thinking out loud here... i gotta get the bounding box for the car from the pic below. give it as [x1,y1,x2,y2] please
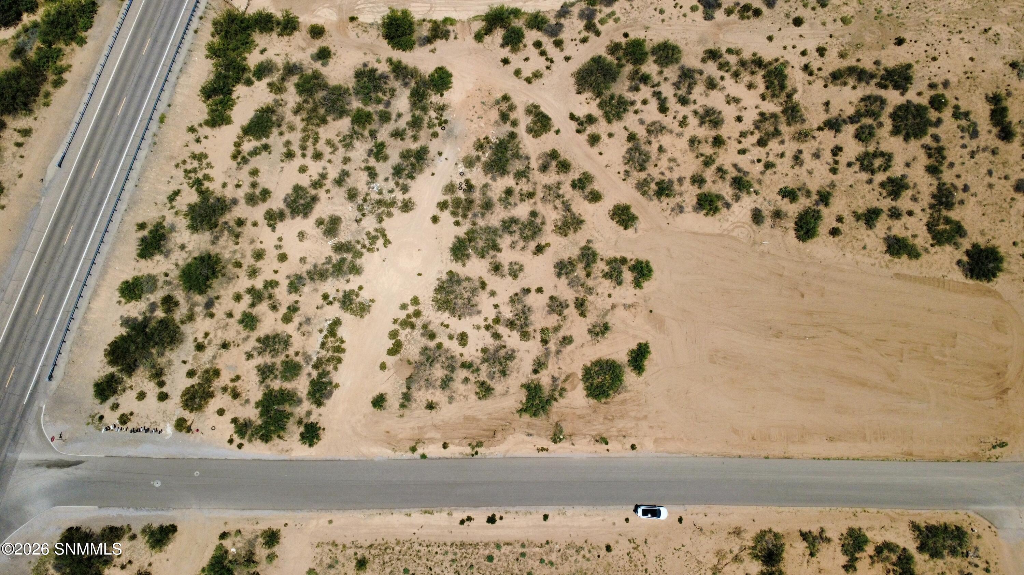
[635,505,667,521]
